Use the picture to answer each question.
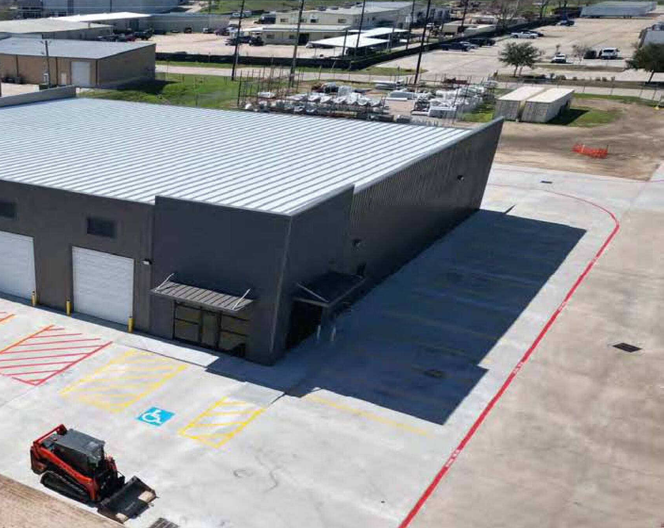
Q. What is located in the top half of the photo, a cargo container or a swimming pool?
cargo container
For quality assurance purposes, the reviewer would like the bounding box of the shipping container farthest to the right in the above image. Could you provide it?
[515,90,576,129]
